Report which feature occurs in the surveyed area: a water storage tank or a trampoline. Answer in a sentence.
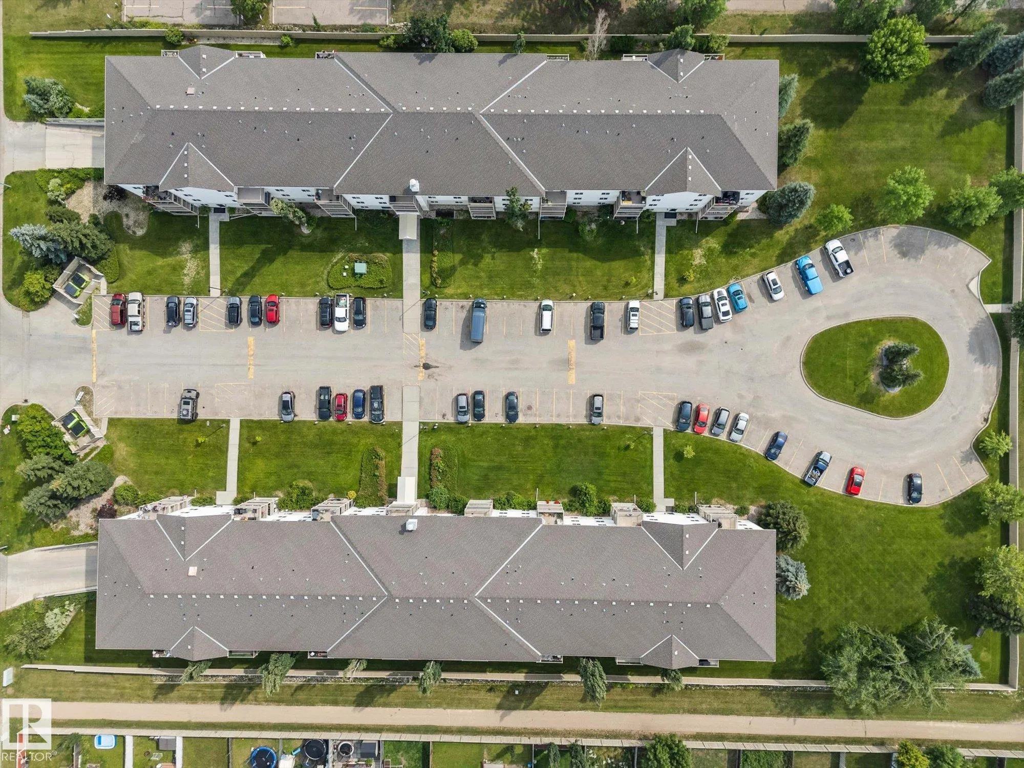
There is a trampoline in the scene.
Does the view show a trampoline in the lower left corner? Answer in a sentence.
Yes, a trampoline shows up in the lower left corner.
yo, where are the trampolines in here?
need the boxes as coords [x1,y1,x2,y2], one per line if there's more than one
[304,740,326,761]
[248,744,278,768]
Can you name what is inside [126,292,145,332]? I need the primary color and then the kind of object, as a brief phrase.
white vehicle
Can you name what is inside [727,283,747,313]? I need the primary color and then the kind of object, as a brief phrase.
blue car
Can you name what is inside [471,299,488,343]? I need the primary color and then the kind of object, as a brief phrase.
blue vehicle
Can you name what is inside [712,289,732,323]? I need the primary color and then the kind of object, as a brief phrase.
white car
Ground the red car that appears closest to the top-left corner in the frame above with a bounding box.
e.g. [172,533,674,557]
[109,293,128,325]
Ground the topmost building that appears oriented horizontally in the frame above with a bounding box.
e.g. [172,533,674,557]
[103,44,780,239]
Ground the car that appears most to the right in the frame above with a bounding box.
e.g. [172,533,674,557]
[905,473,923,503]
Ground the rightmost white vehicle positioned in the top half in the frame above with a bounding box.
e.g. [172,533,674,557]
[826,238,855,280]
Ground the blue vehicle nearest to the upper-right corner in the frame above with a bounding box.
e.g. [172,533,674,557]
[795,255,824,297]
